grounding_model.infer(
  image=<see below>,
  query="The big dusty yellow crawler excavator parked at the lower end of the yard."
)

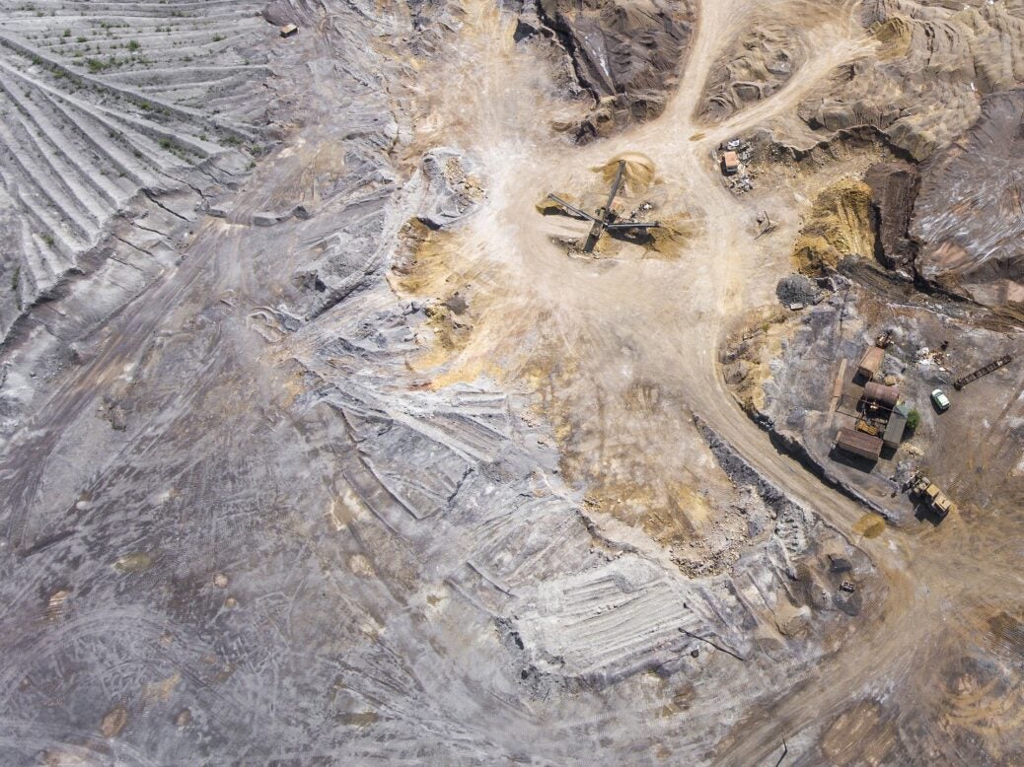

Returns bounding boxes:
[910,468,964,513]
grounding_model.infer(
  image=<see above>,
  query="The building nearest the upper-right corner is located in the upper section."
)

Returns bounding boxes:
[725,150,742,174]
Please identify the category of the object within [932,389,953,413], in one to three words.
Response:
car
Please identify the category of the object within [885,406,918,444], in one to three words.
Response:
shed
